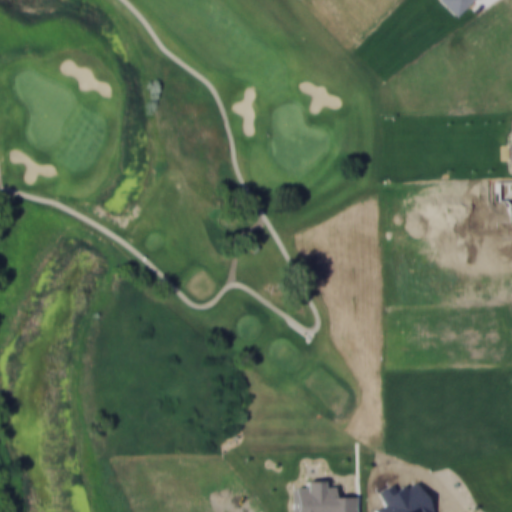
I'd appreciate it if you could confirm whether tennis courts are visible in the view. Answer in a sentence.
No, the picture doesn't show any tennis court.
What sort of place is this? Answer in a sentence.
It's a golf course.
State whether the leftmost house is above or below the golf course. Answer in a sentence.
From this view, the leftmost house can be seen below the golf course.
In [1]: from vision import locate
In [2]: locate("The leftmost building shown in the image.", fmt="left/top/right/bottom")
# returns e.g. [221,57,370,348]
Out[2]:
[294,482,359,512]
